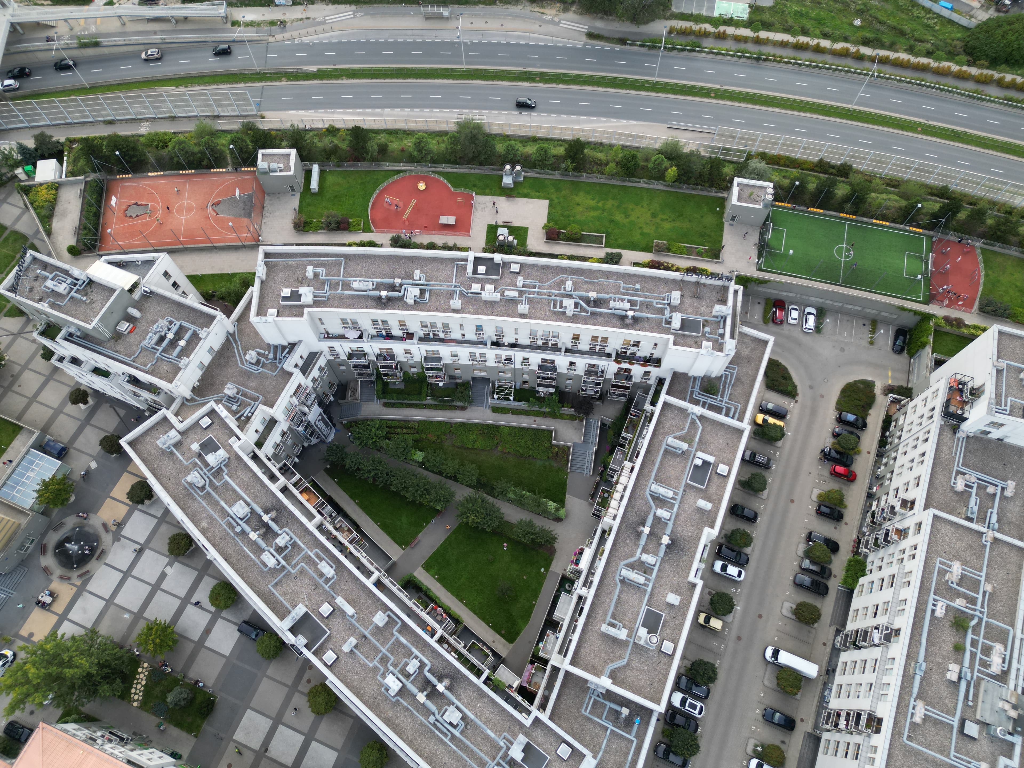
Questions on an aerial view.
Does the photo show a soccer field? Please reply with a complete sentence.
Yes, there's a soccer field down there.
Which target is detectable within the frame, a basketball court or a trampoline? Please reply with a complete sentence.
There is a basketball court in the scene.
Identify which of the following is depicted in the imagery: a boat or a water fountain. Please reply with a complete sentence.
Visible in the photo is a water fountain.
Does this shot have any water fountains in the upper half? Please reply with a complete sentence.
No, there is no water fountain in the upper half.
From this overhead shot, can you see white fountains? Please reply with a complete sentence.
No, the picture doesn't show any white fountain.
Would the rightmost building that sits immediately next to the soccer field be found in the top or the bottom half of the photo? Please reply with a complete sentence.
The bottom half of the photo is where the rightmost building that sits immediately next to the soccer field is.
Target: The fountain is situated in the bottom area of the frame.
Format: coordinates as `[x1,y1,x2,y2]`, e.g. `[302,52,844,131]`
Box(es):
[52,524,100,571]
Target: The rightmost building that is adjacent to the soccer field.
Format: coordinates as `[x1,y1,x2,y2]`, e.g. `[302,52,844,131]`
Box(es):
[816,324,1024,768]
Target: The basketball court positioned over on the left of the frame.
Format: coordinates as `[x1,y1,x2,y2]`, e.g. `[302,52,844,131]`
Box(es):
[98,171,266,251]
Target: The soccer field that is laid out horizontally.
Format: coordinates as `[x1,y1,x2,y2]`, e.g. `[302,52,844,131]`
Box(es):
[757,207,932,304]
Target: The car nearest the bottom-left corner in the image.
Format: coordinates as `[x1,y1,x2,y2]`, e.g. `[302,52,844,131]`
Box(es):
[2,720,33,743]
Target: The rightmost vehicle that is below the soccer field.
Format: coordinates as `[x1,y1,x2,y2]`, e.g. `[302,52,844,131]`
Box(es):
[892,328,907,355]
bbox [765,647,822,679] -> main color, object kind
white van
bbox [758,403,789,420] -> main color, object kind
black car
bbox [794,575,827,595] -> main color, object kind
black car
